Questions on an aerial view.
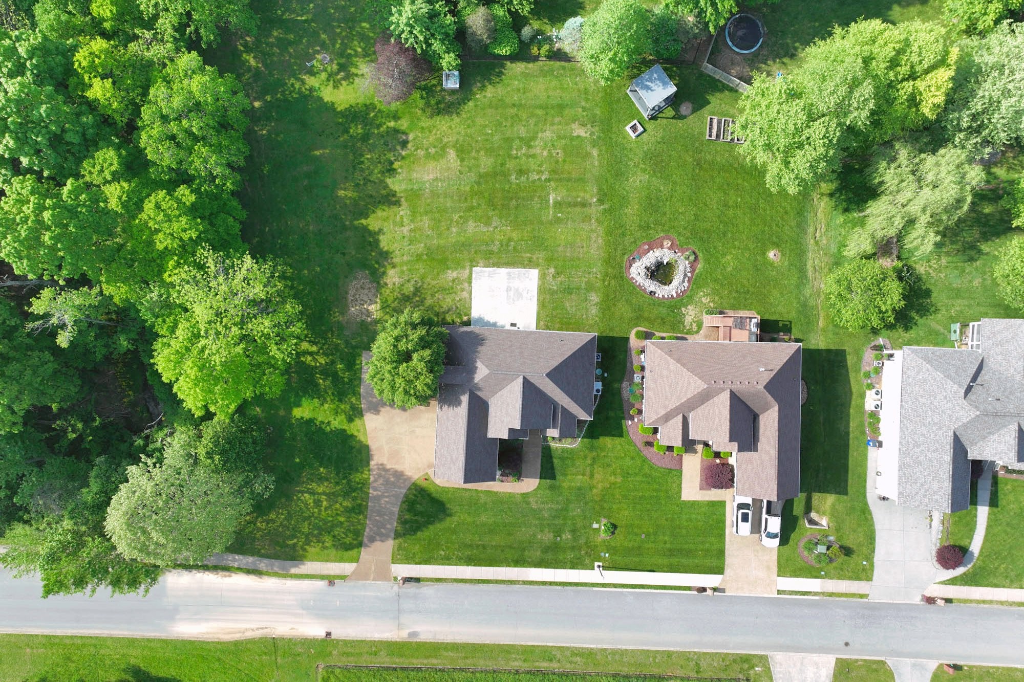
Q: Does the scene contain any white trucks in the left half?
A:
No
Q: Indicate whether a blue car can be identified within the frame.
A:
No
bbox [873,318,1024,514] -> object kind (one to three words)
house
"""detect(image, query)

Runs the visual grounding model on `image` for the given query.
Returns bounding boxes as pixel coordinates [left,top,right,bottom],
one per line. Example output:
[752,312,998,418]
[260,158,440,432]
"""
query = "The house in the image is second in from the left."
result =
[637,337,802,502]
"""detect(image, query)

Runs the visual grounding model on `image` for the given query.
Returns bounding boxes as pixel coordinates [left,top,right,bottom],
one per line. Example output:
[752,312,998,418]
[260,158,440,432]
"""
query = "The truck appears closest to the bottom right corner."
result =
[758,499,784,548]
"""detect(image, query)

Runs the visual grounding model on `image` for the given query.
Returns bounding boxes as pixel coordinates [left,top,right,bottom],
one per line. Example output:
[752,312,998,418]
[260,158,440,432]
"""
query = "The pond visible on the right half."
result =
[625,235,700,300]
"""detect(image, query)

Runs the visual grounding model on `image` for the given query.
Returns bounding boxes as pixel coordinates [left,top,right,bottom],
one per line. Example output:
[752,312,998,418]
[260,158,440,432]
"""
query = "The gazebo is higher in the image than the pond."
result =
[626,63,677,118]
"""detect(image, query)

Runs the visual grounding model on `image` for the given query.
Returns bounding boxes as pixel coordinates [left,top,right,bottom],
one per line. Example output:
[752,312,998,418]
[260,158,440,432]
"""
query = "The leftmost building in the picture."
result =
[433,324,598,484]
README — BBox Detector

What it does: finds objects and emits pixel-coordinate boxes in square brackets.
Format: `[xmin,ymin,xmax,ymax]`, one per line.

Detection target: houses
[637,337,802,502]
[433,324,598,484]
[873,318,1024,514]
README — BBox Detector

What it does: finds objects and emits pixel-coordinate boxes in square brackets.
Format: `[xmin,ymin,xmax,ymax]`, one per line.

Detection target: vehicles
[758,499,784,548]
[731,491,756,537]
